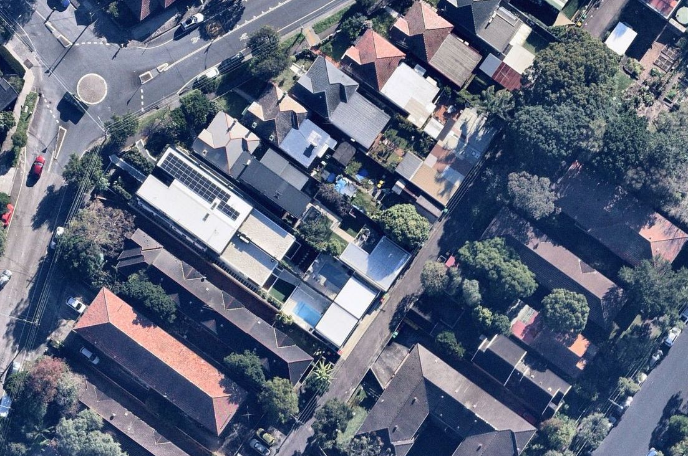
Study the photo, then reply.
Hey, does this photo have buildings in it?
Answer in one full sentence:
Yes, the photo shows a building.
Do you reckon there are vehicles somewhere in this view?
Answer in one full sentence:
Yes, the picture does show a vehicle.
